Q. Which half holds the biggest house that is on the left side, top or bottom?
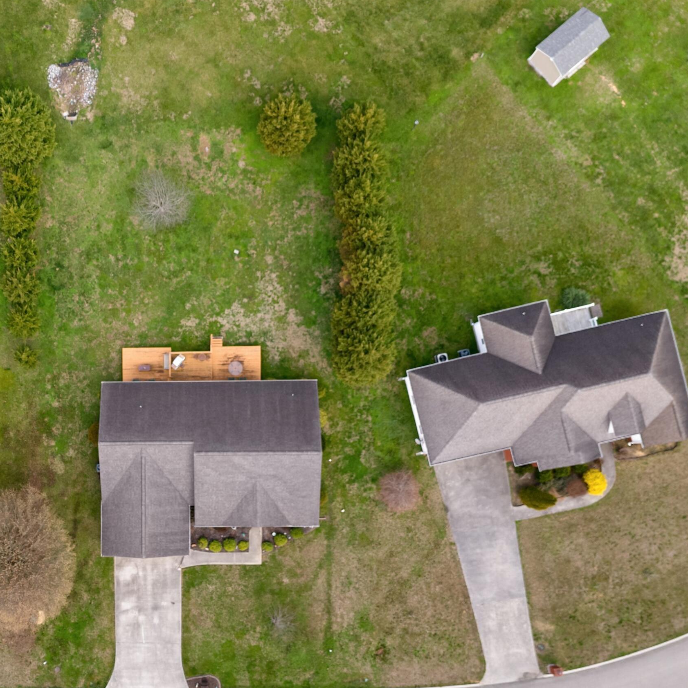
bottom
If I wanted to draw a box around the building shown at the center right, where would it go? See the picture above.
[396,300,688,471]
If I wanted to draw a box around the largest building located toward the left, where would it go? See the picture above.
[98,379,322,559]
